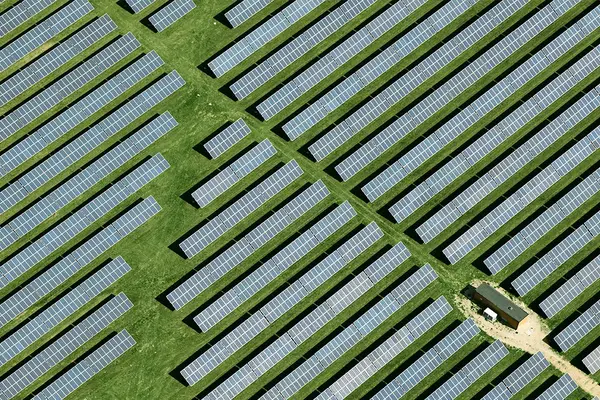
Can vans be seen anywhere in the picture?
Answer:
No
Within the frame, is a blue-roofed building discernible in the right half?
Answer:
No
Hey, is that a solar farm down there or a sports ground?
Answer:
solar farm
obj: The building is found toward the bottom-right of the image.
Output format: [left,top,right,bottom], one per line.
[475,281,528,327]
